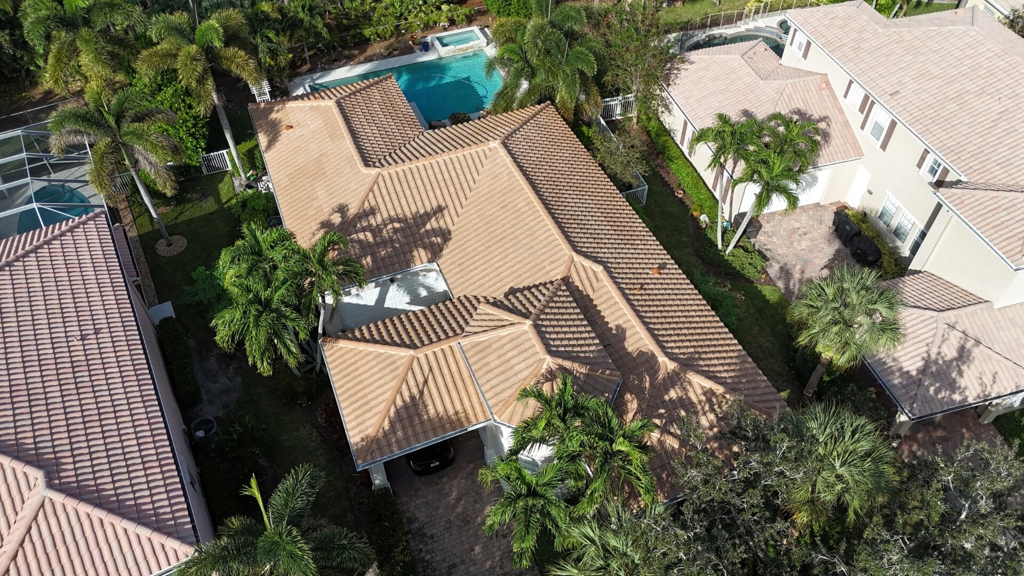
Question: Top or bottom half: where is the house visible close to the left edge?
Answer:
bottom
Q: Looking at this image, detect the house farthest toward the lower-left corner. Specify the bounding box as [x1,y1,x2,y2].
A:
[0,206,222,576]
